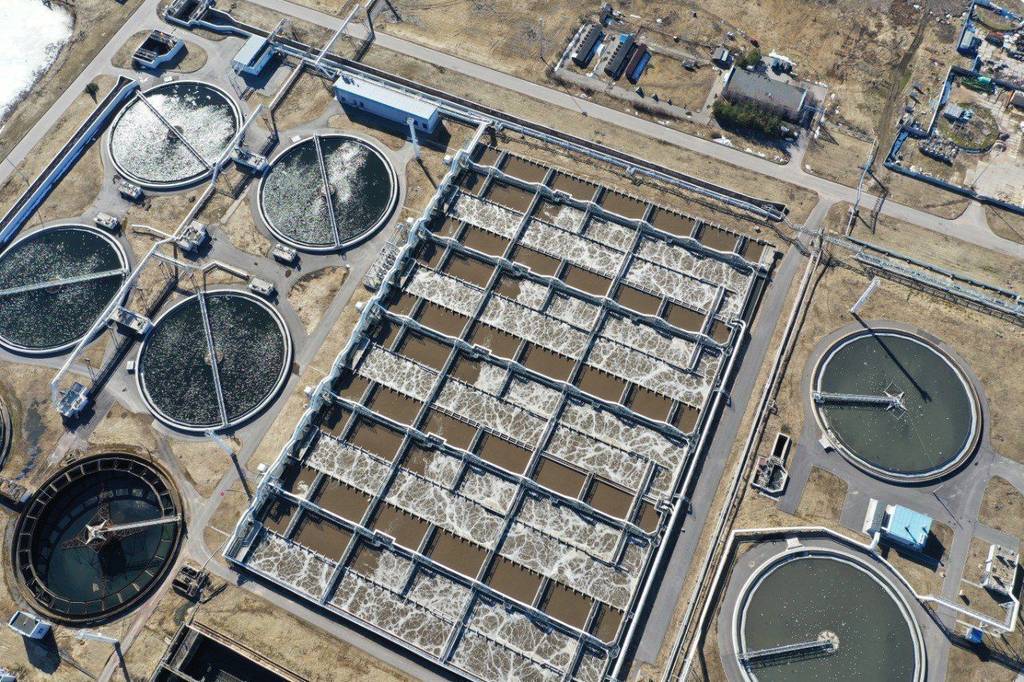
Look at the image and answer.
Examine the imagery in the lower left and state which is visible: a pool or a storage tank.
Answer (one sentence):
What appears in the lower left is a storage tank.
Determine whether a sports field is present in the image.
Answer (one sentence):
No, the picture doesn't show any sports field.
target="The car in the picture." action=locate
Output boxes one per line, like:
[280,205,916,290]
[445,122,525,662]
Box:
[681,56,699,68]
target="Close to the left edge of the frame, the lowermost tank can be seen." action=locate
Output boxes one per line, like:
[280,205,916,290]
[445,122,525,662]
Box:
[12,454,189,623]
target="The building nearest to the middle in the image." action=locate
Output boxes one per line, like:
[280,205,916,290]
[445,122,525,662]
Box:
[363,217,408,293]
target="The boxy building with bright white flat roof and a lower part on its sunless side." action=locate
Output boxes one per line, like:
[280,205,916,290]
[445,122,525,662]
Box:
[222,34,278,79]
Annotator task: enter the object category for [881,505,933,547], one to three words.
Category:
house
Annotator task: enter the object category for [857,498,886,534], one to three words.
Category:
house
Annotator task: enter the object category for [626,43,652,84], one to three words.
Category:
shed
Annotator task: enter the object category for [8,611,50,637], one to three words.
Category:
building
